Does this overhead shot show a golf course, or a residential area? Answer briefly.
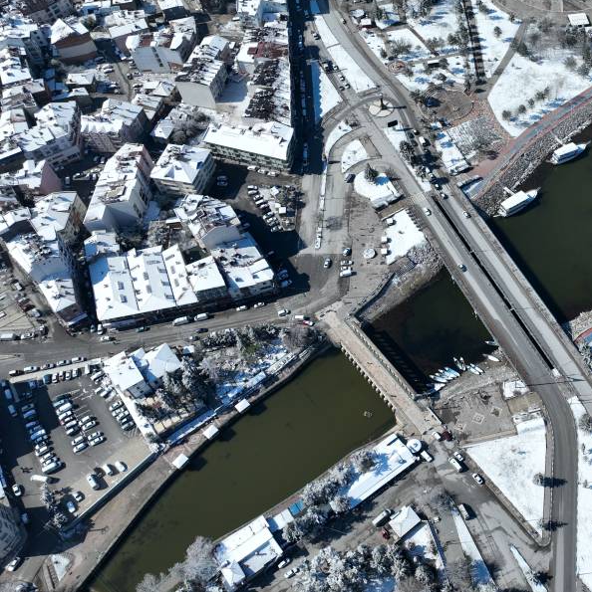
residential area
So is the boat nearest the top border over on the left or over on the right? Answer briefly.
right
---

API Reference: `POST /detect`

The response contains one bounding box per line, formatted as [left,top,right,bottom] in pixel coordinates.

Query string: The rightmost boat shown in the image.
[548,138,589,163]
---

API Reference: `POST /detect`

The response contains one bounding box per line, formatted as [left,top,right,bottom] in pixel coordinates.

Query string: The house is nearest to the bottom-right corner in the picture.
[388,506,420,540]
